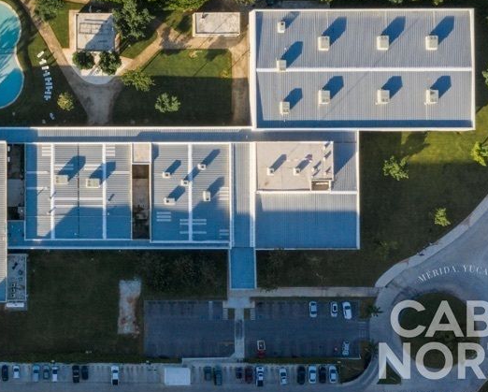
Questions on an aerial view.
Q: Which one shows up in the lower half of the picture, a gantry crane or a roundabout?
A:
roundabout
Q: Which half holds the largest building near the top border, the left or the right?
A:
right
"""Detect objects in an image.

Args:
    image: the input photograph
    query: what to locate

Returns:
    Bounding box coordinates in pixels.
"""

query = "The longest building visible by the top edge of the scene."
[245,8,475,132]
